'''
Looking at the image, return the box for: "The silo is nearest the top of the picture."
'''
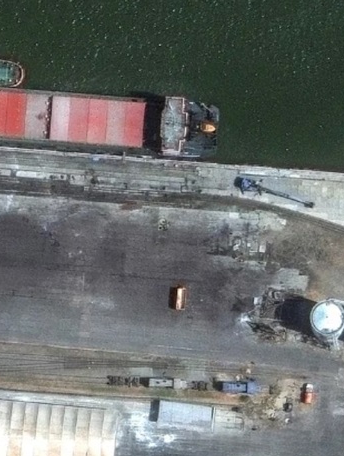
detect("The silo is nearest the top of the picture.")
[311,299,344,347]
